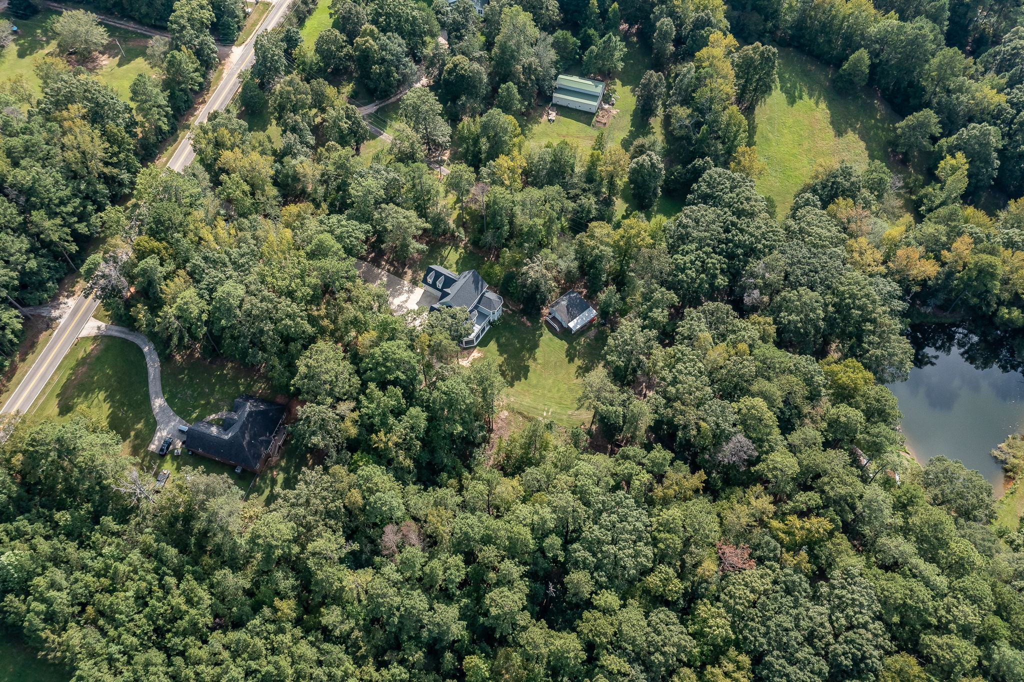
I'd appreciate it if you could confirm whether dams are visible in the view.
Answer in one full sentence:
No, there is no dam in the image.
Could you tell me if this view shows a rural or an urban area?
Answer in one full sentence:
The area is rural.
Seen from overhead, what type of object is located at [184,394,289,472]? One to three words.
house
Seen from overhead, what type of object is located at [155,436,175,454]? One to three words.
car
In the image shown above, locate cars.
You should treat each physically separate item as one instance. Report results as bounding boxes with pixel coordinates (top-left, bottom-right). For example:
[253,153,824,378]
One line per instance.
[155,436,175,454]
[173,422,192,433]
